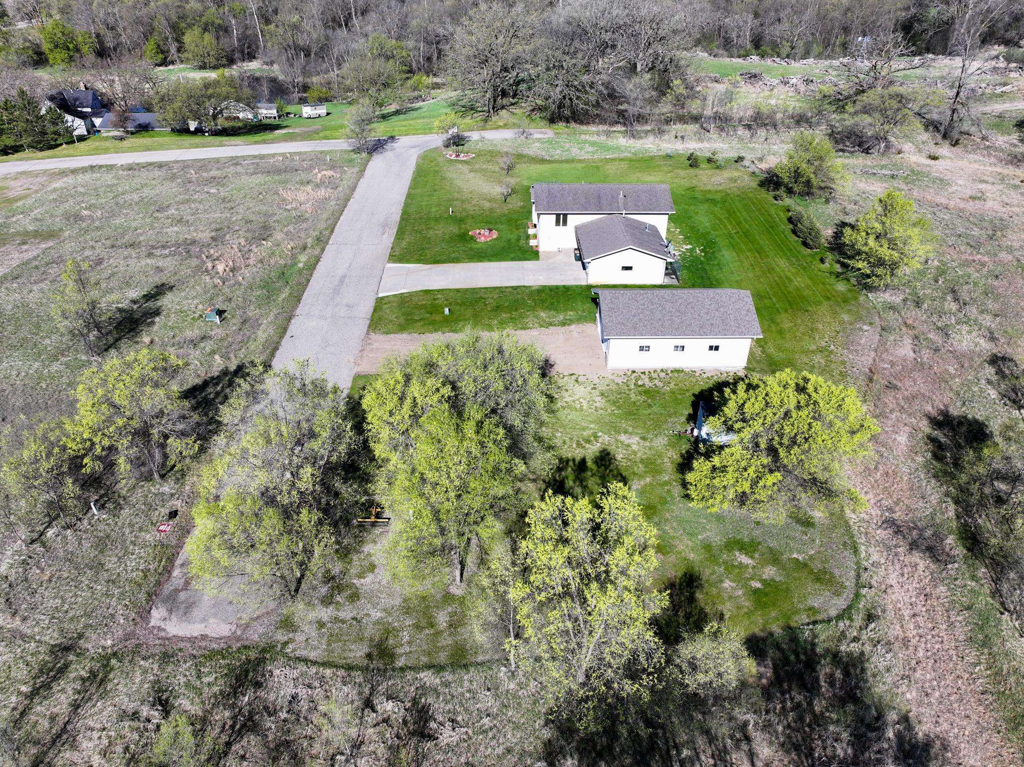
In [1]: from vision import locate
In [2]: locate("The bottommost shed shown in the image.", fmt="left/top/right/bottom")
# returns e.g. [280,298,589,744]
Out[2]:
[591,289,764,368]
